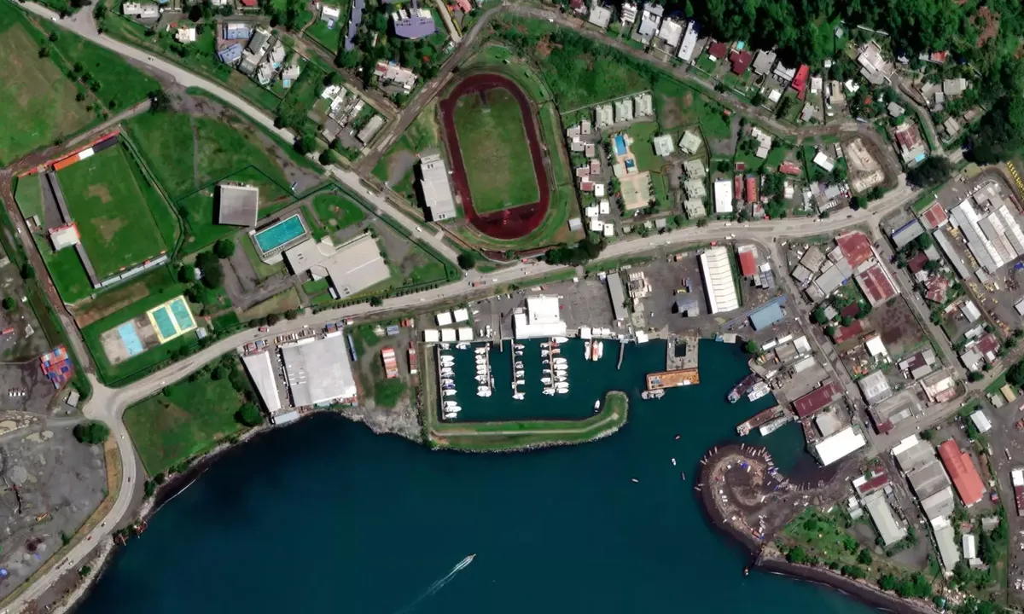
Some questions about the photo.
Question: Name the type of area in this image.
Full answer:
What you see here is a port.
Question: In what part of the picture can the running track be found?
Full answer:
You can find the running track in the top area of the picture.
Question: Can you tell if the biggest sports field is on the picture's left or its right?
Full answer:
It is on the left.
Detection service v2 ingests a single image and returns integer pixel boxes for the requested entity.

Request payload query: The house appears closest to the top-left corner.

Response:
[123,4,158,17]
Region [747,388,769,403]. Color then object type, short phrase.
white ship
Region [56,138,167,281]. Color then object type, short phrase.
green sports field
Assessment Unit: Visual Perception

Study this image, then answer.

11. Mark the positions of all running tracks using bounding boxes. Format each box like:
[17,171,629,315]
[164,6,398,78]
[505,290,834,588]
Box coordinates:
[444,72,550,239]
